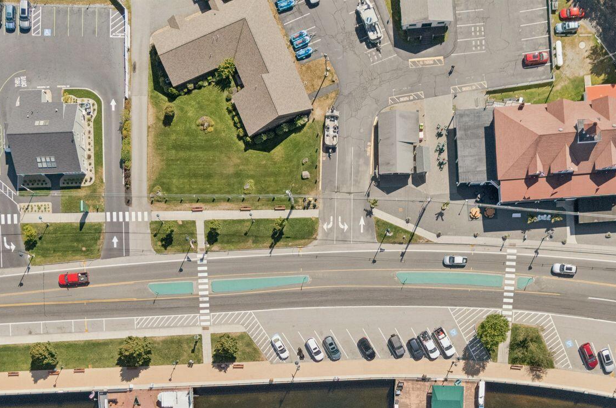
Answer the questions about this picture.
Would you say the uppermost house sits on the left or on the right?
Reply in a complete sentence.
You can find the uppermost house on the right side of the picture.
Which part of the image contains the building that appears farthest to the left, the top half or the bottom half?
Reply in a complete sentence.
The building that appears farthest to the left is in the top half of the image.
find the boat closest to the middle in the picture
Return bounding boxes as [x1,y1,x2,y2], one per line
[325,108,339,155]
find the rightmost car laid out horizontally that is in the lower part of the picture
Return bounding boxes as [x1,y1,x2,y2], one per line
[550,263,578,276]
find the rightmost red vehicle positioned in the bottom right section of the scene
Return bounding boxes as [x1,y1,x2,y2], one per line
[579,341,596,370]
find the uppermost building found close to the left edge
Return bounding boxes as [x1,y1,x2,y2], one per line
[4,90,84,175]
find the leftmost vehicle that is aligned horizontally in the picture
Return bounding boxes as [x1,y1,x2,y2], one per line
[59,271,91,285]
